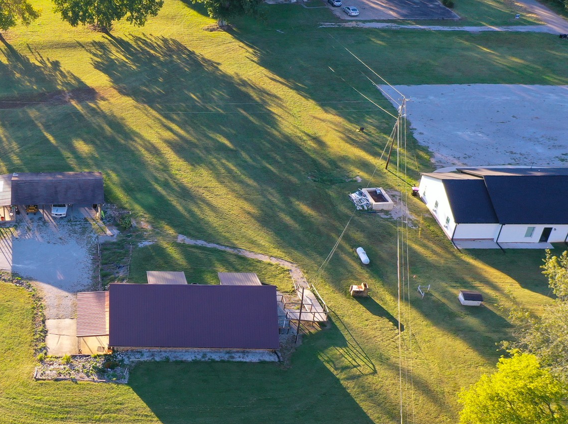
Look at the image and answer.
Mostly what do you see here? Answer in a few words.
grass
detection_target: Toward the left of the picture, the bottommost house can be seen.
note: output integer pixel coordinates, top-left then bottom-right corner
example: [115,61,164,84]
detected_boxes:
[101,270,282,366]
